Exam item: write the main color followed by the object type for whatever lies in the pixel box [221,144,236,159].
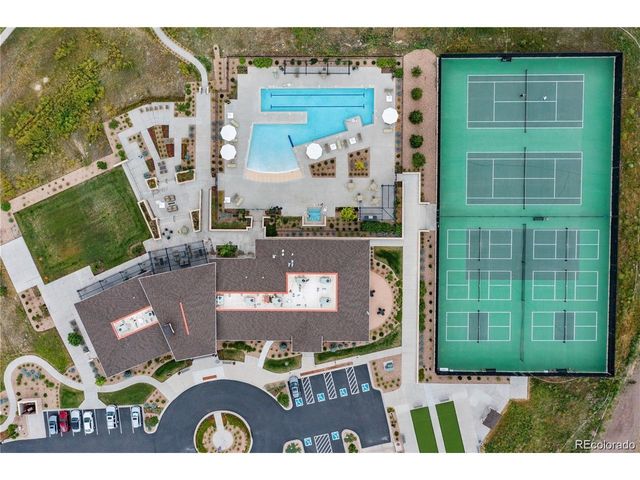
white umbrella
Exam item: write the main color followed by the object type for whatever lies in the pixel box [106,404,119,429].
white vehicle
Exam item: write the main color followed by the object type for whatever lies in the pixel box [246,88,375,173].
blue swimming pool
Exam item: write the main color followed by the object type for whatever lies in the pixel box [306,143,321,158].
white umbrella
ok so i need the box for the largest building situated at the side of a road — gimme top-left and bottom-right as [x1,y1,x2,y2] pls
[74,238,371,378]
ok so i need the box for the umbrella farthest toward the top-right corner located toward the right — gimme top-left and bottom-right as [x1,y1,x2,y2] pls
[382,108,398,123]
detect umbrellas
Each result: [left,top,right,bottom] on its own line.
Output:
[382,108,398,123]
[306,143,321,158]
[221,144,236,159]
[221,124,236,140]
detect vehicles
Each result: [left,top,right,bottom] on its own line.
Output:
[288,374,300,398]
[82,410,96,434]
[131,405,143,428]
[70,409,84,432]
[48,414,61,435]
[58,409,72,433]
[106,404,119,429]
